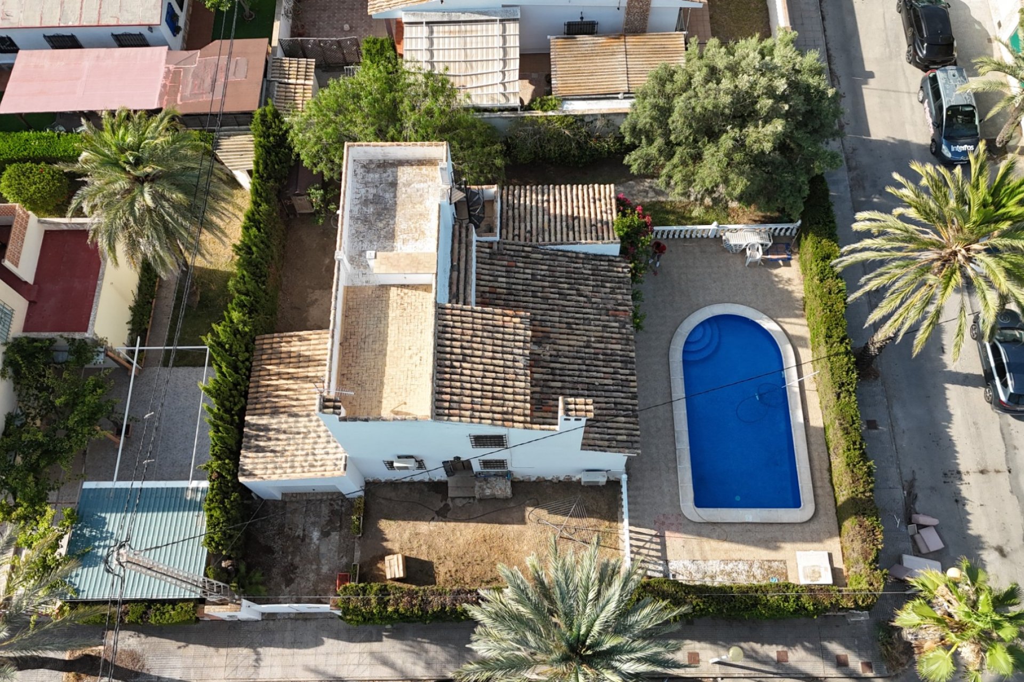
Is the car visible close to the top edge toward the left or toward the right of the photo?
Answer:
right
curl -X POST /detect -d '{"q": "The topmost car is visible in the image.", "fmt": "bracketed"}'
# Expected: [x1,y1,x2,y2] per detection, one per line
[895,0,954,67]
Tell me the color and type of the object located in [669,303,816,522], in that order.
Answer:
blue swimming pool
